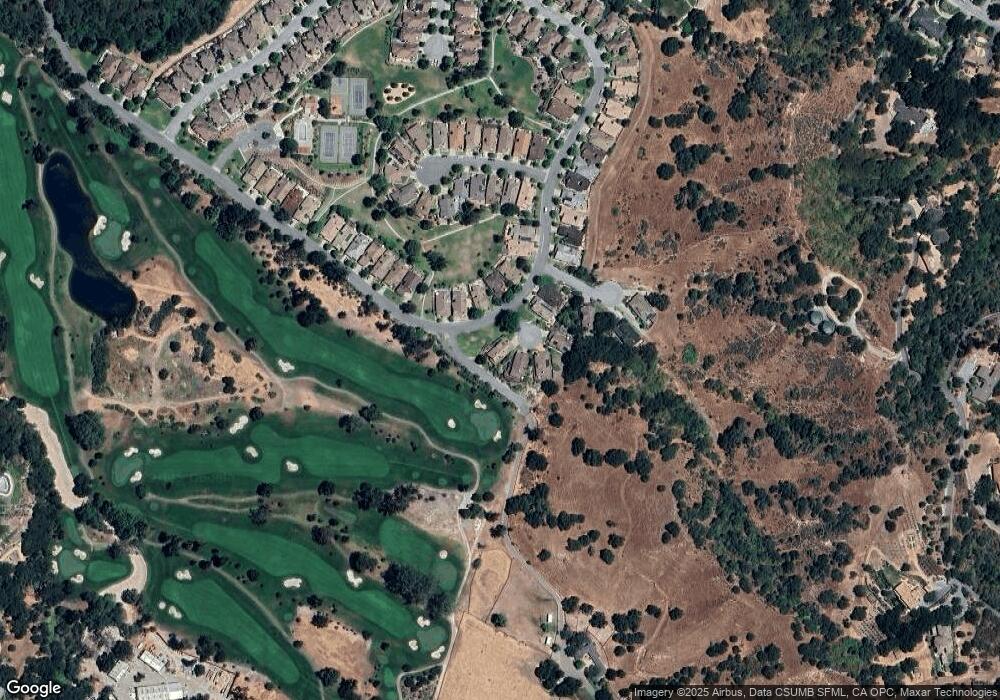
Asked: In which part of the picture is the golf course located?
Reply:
left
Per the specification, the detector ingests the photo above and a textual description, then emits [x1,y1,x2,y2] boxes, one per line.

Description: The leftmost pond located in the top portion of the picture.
[43,151,137,323]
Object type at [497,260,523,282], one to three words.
house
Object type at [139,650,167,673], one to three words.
shed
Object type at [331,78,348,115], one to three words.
sports court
